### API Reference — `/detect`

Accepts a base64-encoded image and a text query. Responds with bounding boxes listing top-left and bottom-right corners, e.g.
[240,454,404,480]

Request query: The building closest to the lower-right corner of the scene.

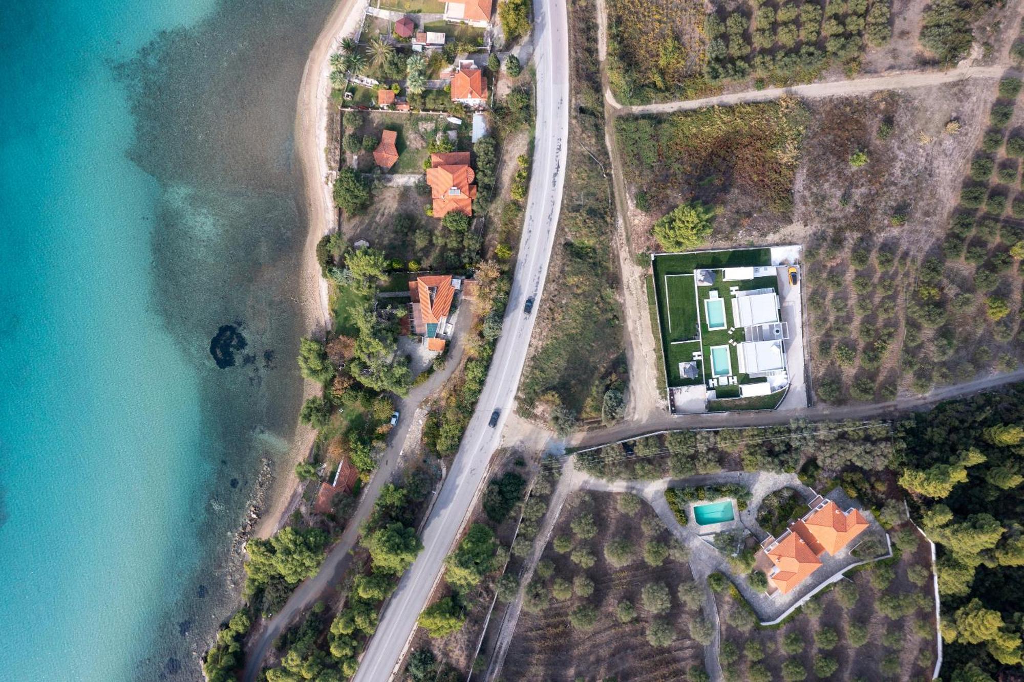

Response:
[759,495,870,599]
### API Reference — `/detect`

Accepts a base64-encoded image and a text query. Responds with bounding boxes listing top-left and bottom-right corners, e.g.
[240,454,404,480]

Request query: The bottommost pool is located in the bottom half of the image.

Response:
[693,498,736,527]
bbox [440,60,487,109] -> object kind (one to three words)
house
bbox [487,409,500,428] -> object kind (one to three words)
vehicle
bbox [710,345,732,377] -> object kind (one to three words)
swimming pool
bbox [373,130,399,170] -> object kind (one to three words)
building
